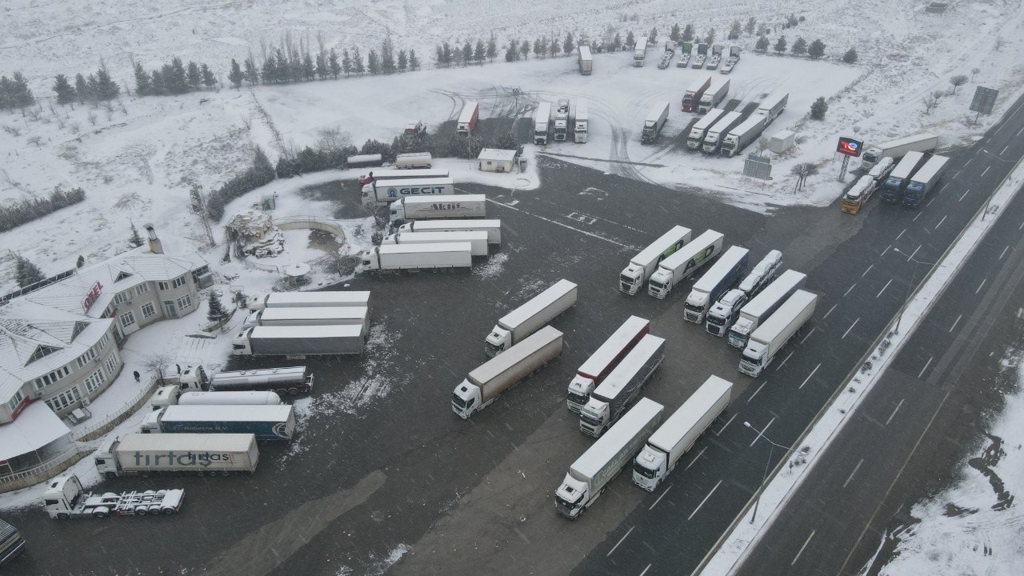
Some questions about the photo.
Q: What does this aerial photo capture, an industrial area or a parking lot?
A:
parking lot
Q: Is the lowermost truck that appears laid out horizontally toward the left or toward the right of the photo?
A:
left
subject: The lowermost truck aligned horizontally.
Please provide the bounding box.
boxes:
[34,472,186,516]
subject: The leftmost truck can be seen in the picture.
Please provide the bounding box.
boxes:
[0,519,30,572]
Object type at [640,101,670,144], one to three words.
truck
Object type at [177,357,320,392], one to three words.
truck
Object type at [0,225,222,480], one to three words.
building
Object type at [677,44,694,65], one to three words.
vehicle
